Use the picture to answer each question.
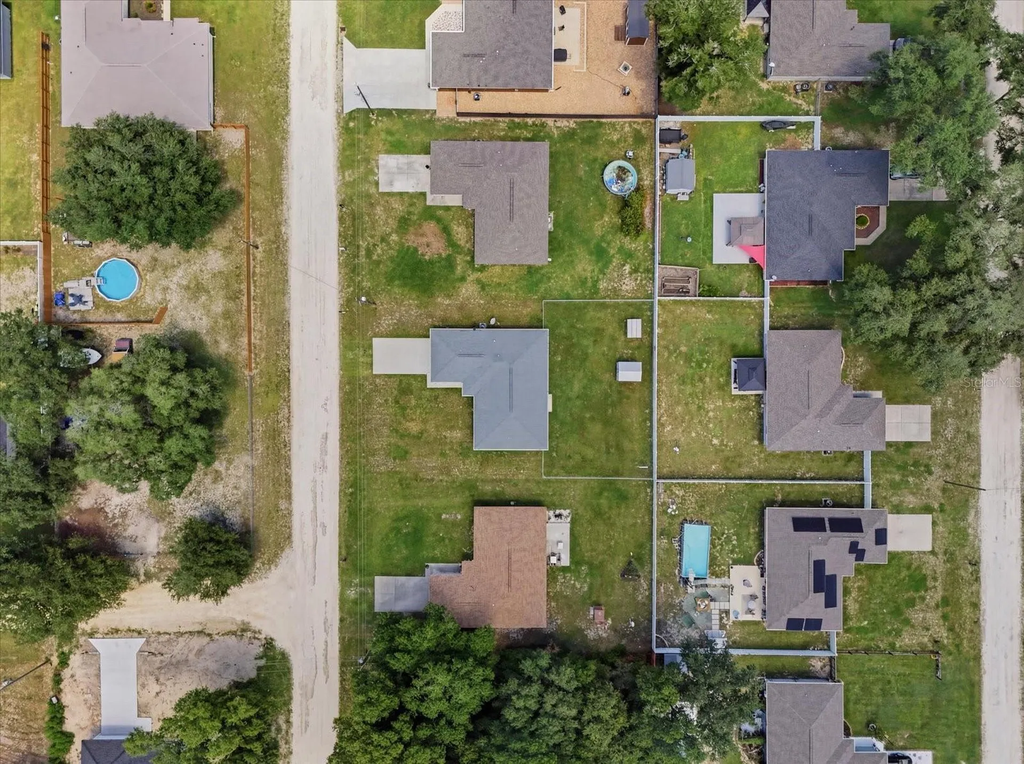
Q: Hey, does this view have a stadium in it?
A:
No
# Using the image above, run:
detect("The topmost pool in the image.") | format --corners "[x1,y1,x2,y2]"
[602,160,637,196]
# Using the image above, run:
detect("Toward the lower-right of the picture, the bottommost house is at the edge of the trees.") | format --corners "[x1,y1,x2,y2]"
[763,678,888,764]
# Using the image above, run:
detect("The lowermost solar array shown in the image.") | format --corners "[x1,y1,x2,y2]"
[786,618,823,630]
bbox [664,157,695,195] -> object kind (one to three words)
shed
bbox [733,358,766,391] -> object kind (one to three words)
gazebo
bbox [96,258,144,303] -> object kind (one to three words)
swimming pool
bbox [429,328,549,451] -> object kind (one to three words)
house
